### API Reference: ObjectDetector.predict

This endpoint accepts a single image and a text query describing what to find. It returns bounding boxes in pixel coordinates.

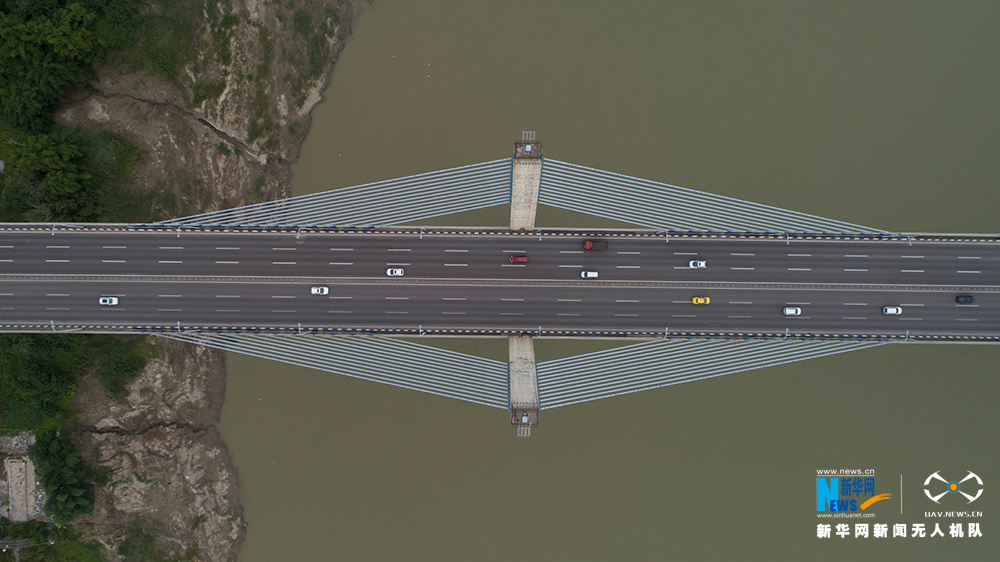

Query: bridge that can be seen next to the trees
[0,128,1000,439]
